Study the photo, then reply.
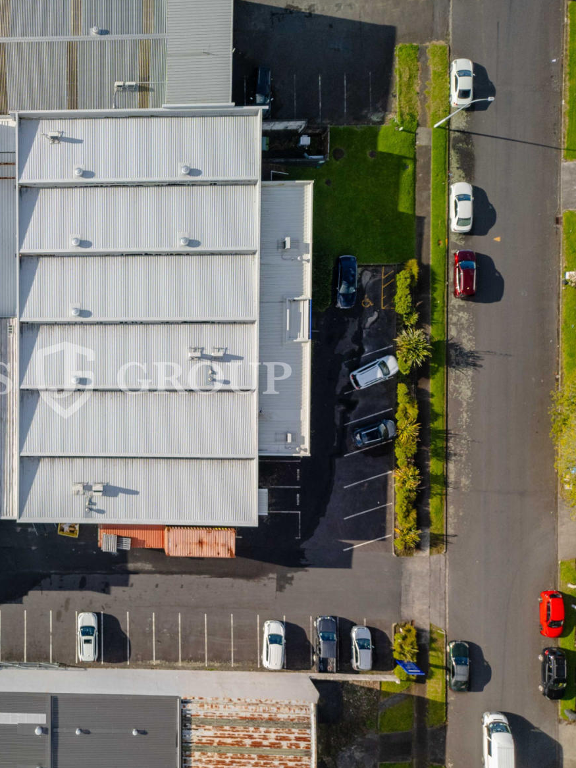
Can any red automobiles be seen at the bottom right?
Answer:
Yes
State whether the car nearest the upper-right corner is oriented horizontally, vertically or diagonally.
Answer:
vertically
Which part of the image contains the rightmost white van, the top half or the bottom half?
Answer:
bottom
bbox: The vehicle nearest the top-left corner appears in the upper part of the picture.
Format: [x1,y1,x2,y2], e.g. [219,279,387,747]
[252,64,277,118]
